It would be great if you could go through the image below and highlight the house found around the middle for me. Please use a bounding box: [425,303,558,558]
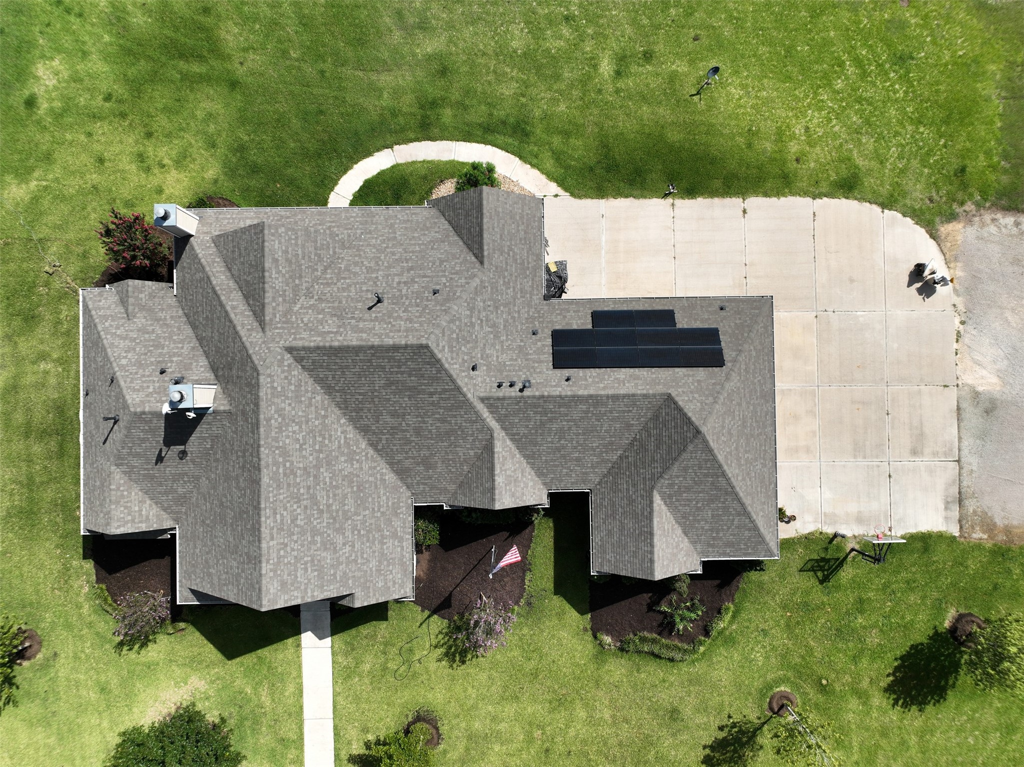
[81,186,779,611]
